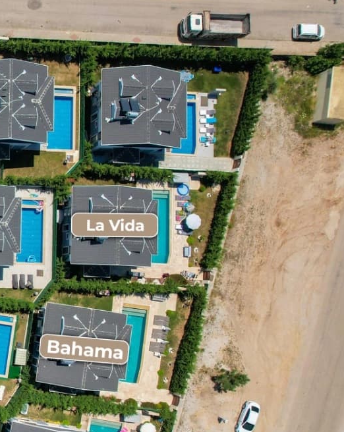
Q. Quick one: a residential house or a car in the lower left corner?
residential house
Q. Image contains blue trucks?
No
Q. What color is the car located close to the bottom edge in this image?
white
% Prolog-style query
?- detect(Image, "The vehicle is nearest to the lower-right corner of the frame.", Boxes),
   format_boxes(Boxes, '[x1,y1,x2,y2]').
[236,402,264,432]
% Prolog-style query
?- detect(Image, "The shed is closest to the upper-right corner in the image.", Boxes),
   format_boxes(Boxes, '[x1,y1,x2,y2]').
[312,67,344,123]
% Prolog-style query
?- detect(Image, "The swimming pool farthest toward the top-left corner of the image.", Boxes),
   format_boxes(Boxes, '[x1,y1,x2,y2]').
[44,87,76,152]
